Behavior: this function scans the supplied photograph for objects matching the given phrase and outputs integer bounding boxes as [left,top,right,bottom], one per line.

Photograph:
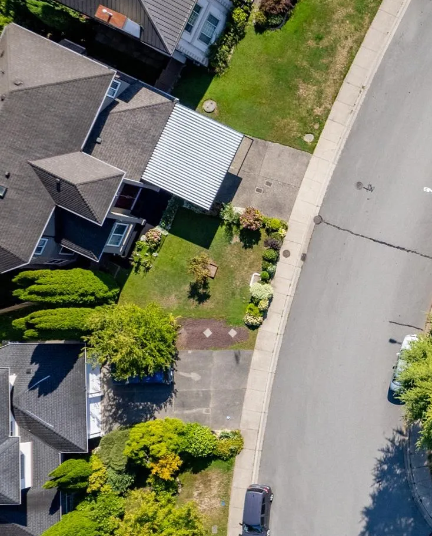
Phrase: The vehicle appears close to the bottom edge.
[240,481,276,536]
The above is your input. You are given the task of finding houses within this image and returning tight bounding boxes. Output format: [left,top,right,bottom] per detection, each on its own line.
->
[0,342,108,536]
[0,22,182,267]
[56,0,256,72]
